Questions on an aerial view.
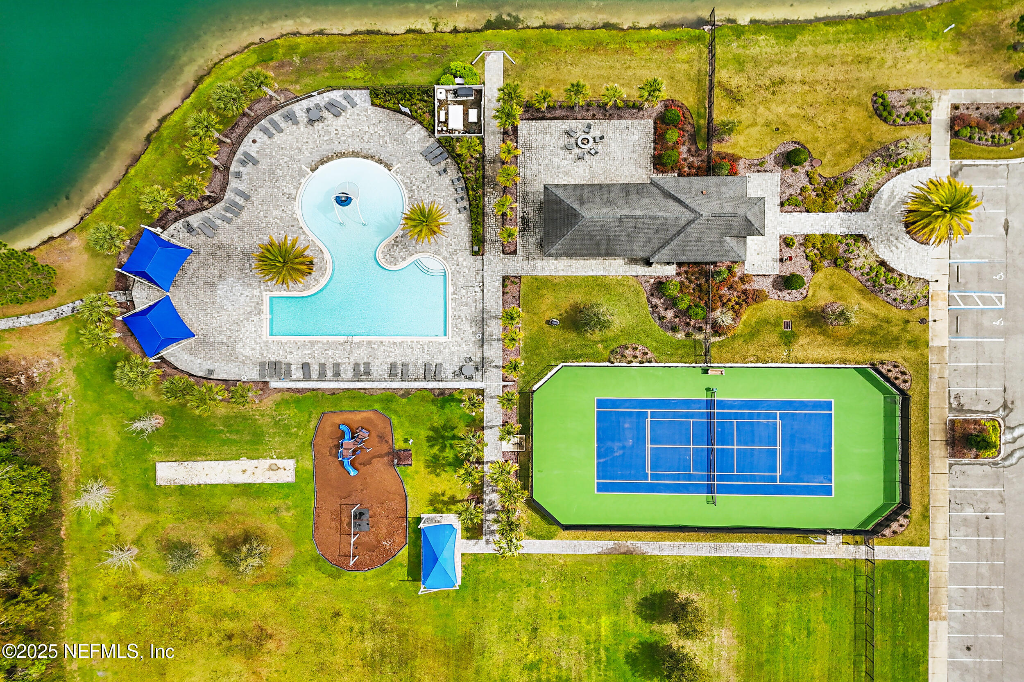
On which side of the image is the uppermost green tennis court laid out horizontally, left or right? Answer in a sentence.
It is on the right.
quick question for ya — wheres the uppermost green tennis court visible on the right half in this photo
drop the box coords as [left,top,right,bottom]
[532,366,900,530]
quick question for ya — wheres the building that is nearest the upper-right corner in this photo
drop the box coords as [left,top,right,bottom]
[543,176,766,262]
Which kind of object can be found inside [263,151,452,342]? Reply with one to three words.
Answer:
swimming pool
